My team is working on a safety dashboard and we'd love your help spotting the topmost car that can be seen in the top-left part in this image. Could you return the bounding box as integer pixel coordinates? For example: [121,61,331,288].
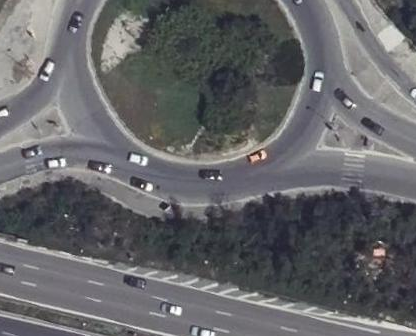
[70,12,82,34]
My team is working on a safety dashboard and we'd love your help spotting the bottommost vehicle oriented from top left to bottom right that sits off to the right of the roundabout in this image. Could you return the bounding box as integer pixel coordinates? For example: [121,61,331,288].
[361,116,384,136]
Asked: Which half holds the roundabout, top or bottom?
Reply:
top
